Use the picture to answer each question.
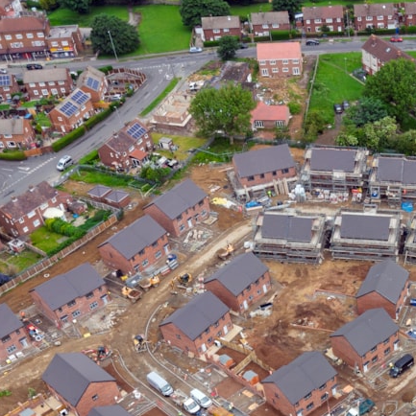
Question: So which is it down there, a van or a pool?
van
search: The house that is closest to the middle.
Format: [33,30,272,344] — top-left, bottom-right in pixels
[145,176,210,238]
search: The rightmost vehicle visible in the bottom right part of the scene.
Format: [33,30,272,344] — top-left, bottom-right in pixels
[388,347,416,377]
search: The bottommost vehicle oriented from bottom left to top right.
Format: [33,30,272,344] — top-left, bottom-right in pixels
[346,396,375,416]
